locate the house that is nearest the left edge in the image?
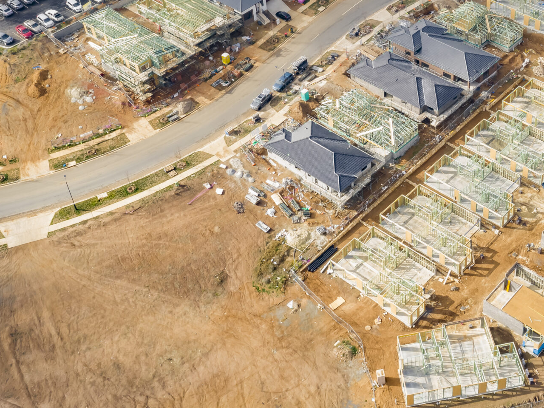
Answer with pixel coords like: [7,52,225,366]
[80,7,175,94]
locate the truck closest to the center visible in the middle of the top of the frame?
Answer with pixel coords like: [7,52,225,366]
[248,87,275,108]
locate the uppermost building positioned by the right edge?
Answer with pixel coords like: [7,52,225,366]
[432,0,529,53]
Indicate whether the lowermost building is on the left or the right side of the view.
right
